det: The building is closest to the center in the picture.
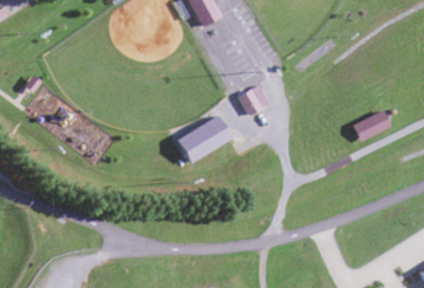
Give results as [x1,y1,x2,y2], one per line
[178,116,231,163]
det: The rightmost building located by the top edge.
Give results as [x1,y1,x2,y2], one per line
[189,0,222,26]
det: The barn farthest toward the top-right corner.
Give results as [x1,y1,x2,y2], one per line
[352,112,392,142]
